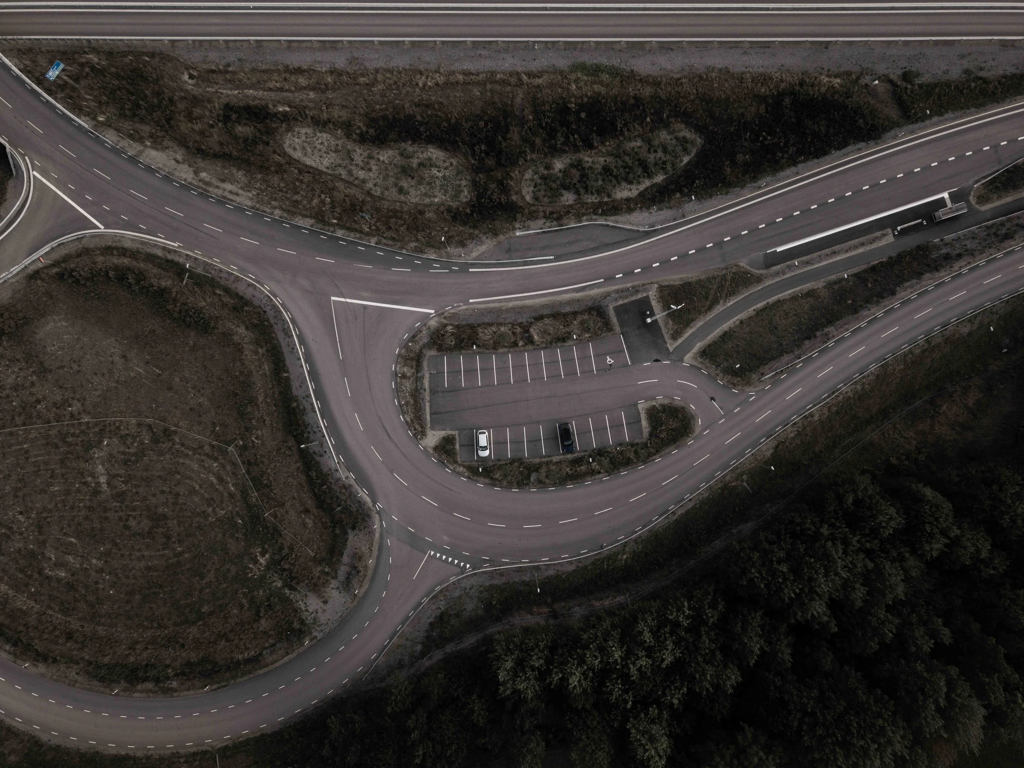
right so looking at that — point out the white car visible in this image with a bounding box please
[477,430,490,457]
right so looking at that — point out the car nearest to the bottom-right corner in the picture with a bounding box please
[559,423,575,452]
